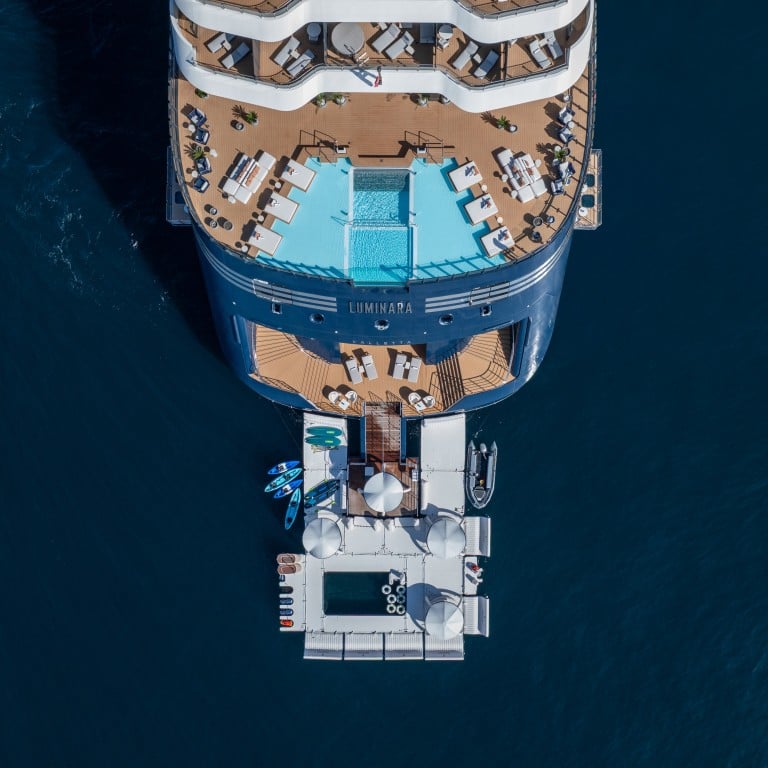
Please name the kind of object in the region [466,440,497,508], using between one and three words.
boat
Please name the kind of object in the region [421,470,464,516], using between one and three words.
pier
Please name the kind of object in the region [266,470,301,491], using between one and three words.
boat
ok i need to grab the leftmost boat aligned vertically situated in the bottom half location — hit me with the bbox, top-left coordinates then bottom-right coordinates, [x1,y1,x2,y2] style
[286,490,300,528]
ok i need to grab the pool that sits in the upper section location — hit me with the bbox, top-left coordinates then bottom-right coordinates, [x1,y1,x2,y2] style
[256,157,504,287]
